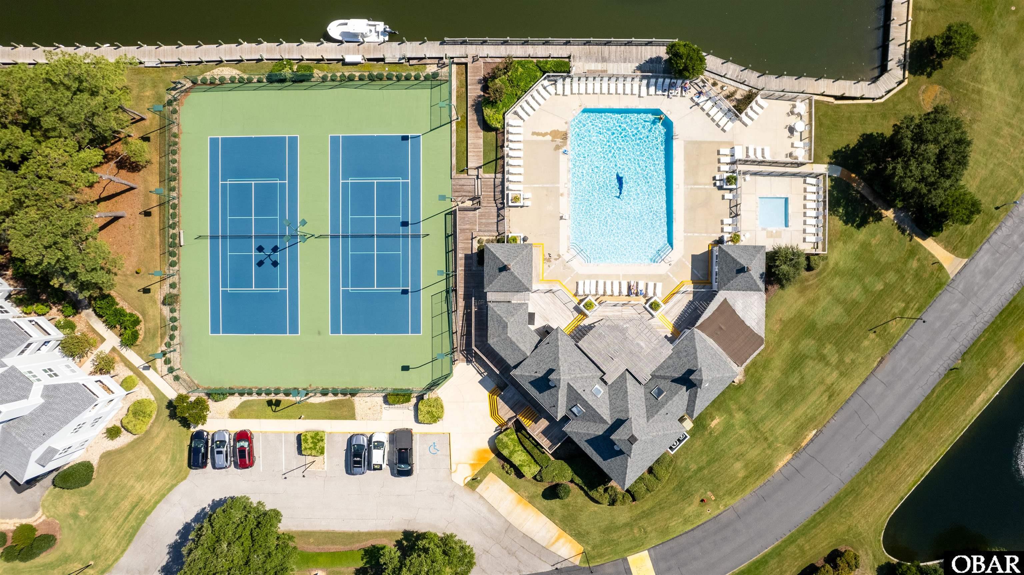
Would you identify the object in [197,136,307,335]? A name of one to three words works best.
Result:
tennis court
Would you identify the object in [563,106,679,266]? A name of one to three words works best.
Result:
swimming pool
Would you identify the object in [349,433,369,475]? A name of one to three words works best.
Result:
car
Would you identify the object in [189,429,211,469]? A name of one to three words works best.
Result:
car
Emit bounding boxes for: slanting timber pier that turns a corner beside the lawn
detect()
[679,0,912,102]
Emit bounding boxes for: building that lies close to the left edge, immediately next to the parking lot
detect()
[0,315,140,484]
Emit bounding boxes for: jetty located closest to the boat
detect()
[0,37,681,74]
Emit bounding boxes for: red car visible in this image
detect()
[234,429,256,468]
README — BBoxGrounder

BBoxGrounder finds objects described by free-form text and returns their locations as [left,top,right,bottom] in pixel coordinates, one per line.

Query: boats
[326,15,399,42]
